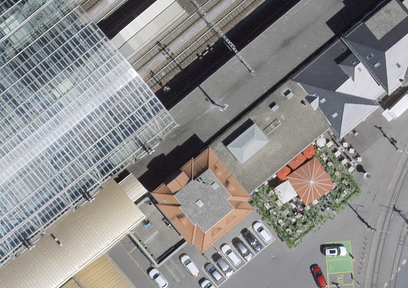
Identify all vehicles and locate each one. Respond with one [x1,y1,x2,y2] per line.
[148,266,170,288]
[220,242,244,268]
[232,236,256,264]
[311,264,328,288]
[204,261,226,286]
[252,219,276,246]
[241,227,266,254]
[212,252,236,280]
[179,254,202,279]
[380,90,408,124]
[200,277,218,288]
[325,246,349,258]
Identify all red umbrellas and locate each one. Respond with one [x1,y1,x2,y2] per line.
[296,152,308,166]
[287,158,300,171]
[304,145,316,158]
[278,166,291,179]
